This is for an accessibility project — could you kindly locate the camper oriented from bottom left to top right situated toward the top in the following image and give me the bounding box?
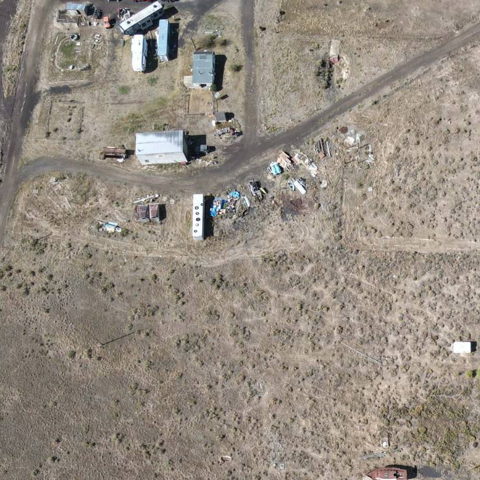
[120,1,166,38]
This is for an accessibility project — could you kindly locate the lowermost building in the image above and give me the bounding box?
[136,127,188,165]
